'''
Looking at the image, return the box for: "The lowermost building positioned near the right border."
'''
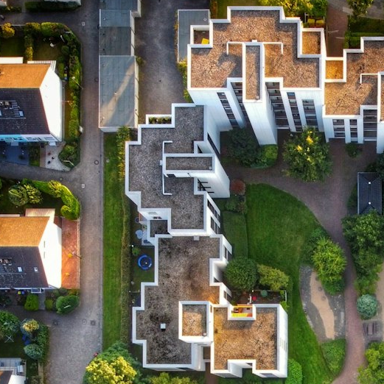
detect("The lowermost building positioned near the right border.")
[357,172,382,215]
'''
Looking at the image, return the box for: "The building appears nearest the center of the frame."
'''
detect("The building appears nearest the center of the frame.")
[125,104,230,245]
